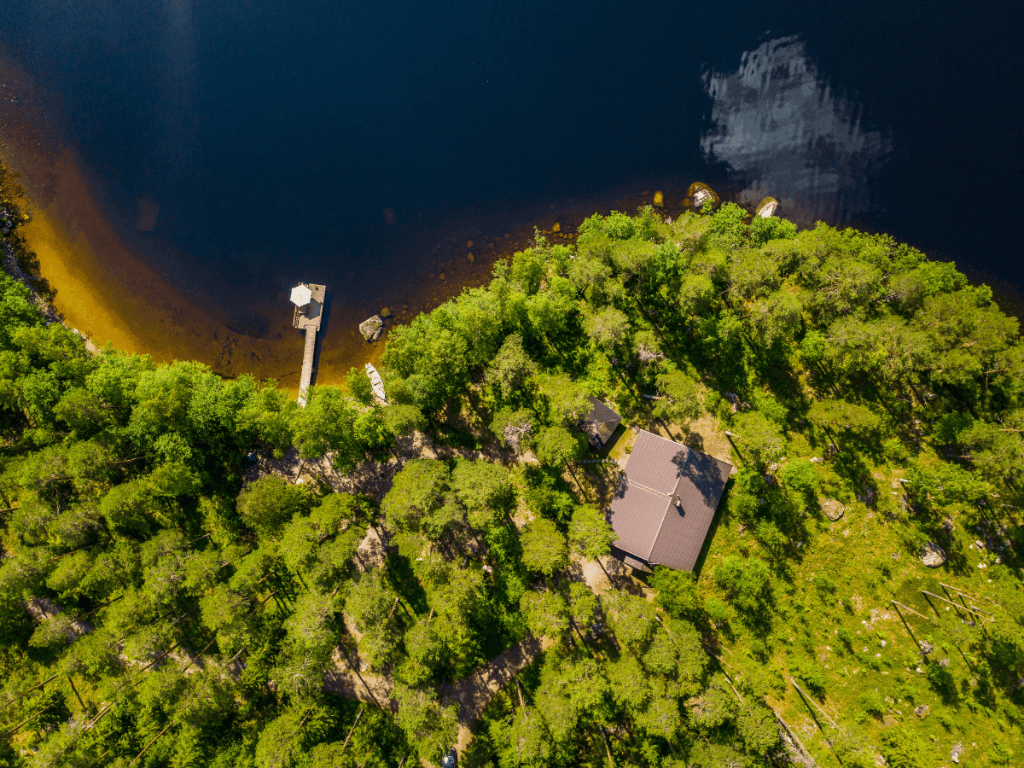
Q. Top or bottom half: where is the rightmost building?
bottom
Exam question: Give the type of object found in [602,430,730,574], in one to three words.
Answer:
building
